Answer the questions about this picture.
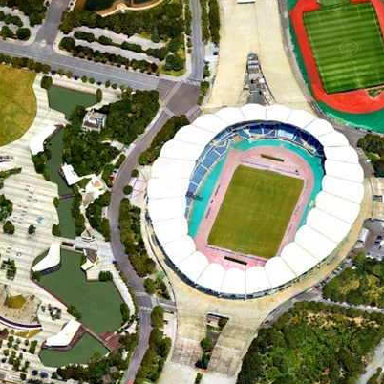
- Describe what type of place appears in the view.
sports ground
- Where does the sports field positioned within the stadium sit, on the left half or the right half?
right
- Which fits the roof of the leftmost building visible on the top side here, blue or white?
white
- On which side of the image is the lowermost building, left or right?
left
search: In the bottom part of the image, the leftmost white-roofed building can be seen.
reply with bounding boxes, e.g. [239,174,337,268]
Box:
[32,243,61,274]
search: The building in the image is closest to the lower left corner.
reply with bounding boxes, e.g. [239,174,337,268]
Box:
[41,319,85,351]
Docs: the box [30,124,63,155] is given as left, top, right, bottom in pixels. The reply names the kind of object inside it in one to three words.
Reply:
building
